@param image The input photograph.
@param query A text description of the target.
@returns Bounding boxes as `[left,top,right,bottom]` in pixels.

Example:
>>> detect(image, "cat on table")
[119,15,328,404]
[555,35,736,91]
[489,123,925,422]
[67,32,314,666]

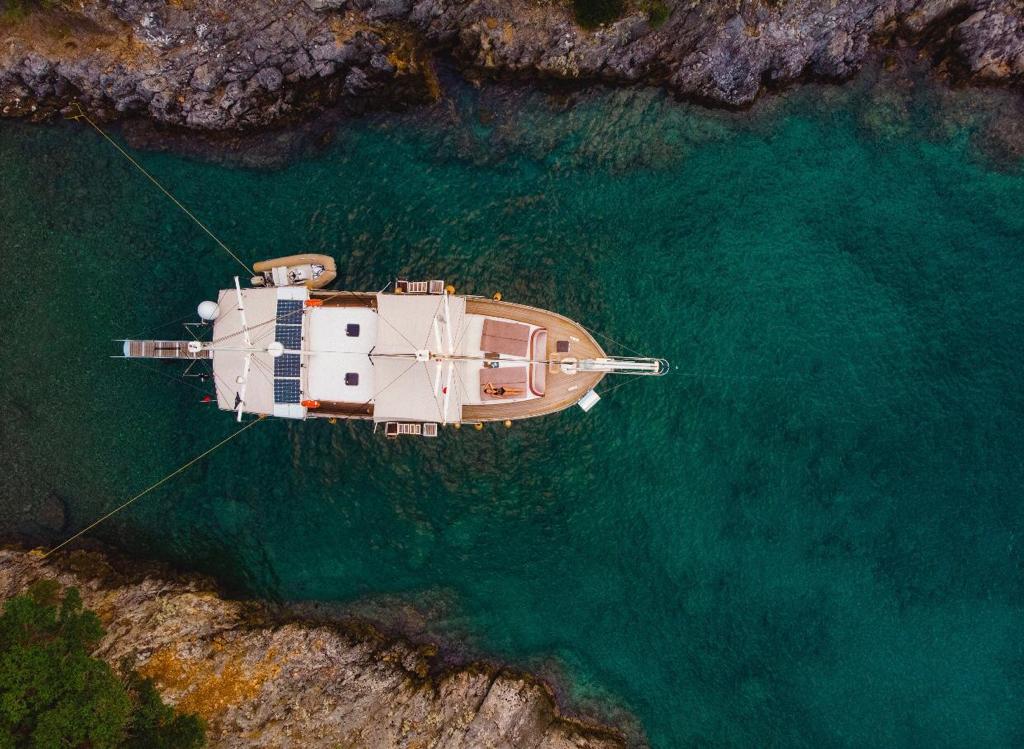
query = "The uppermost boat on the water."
[248,253,336,292]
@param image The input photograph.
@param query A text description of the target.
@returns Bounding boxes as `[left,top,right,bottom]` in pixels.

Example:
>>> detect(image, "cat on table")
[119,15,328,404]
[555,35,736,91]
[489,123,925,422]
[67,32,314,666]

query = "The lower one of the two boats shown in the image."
[110,278,669,437]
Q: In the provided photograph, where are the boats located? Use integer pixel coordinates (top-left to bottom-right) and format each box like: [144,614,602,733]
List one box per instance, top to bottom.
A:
[248,253,336,292]
[110,278,669,437]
